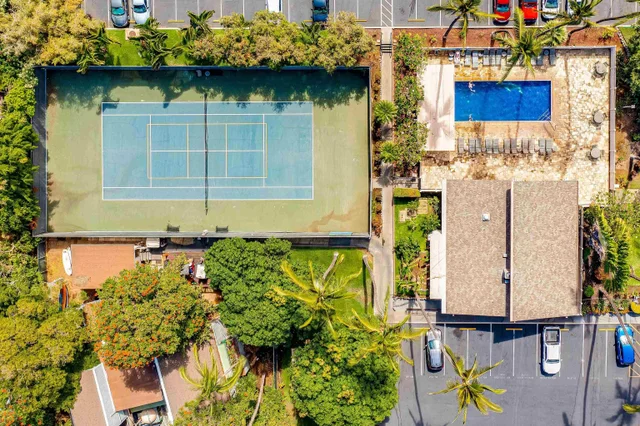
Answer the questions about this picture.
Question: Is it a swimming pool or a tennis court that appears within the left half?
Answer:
tennis court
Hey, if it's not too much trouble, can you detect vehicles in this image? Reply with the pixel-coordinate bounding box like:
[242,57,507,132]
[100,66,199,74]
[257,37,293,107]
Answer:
[310,0,329,24]
[518,0,540,23]
[109,0,131,30]
[139,402,160,426]
[492,0,512,24]
[539,0,561,19]
[424,329,442,372]
[610,324,634,367]
[131,0,151,26]
[538,323,562,374]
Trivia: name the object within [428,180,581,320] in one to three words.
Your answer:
building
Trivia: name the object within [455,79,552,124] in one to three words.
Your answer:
swimming pool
